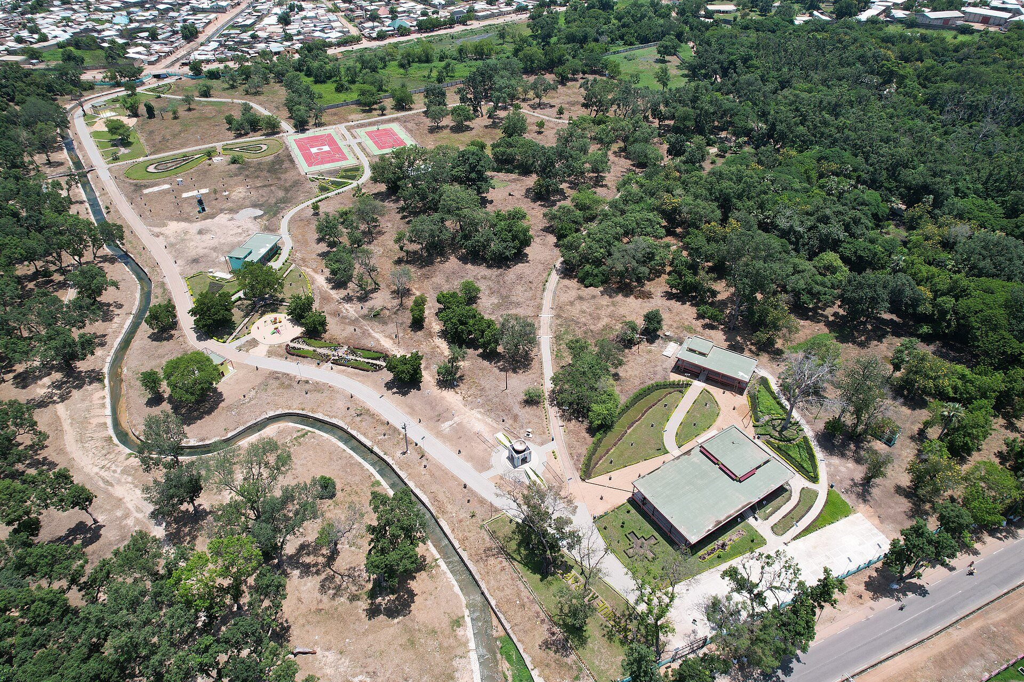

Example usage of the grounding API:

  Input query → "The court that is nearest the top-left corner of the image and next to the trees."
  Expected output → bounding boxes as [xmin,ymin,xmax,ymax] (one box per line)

[286,128,359,173]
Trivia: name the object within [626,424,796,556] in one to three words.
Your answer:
building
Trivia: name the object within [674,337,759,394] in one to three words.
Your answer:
building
